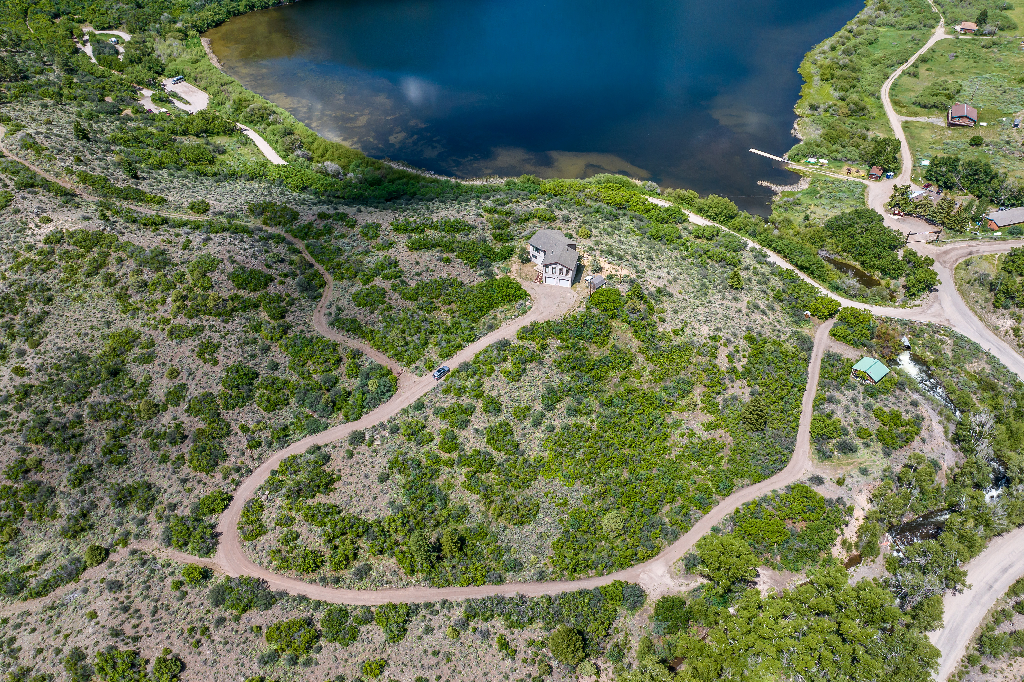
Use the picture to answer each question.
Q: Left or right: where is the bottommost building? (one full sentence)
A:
You can find the bottommost building on the right side of the picture.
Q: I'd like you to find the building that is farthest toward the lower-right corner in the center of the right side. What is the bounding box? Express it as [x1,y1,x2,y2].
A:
[850,359,893,388]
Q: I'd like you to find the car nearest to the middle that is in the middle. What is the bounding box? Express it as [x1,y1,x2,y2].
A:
[431,364,453,379]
